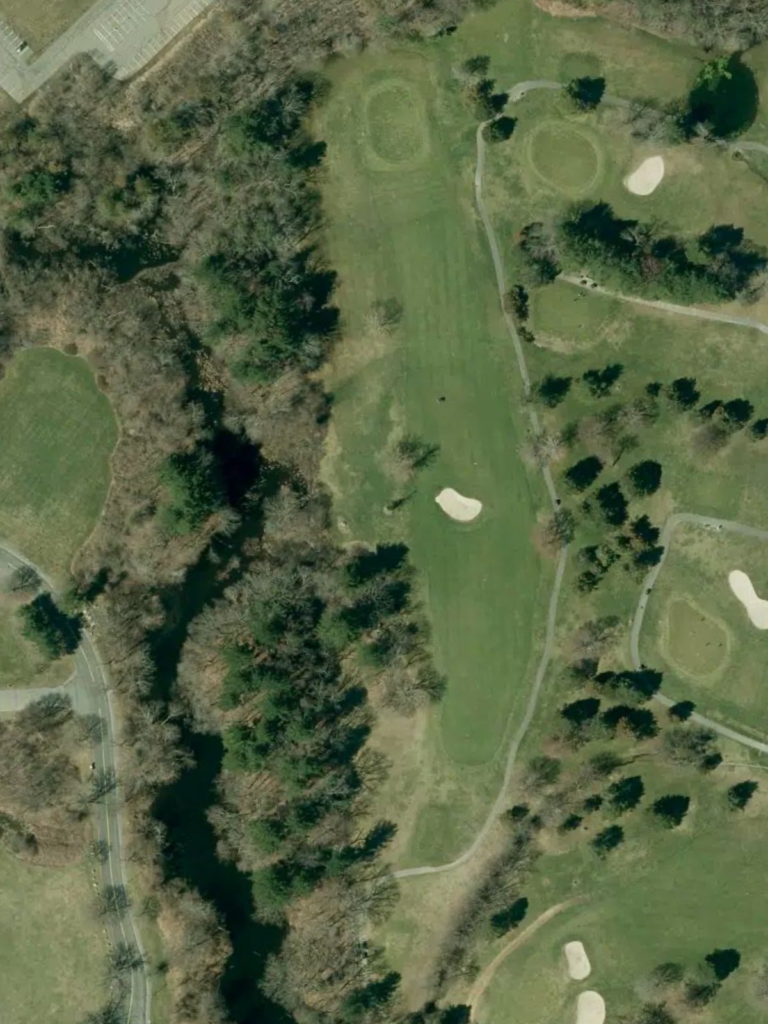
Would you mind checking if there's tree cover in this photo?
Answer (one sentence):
Yes, there is tree cover in the image.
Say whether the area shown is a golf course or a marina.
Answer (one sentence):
What you see here is a golf course.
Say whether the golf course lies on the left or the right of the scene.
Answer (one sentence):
The golf course appears in the right half of the scene.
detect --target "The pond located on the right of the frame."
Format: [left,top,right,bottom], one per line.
[687,54,759,138]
